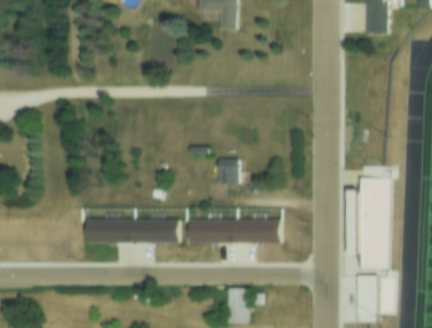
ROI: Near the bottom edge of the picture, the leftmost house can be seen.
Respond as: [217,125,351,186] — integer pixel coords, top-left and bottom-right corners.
[228,288,254,324]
